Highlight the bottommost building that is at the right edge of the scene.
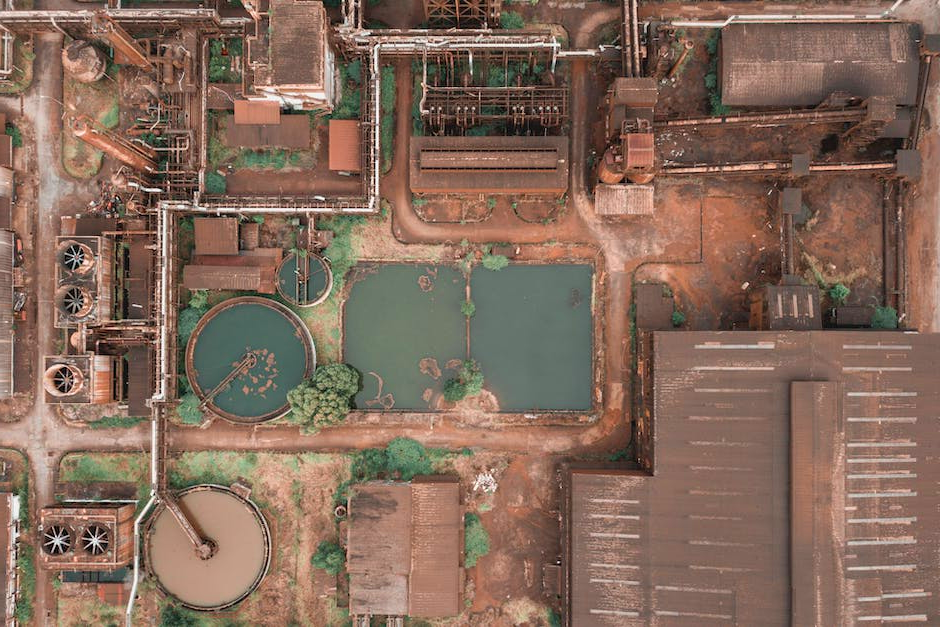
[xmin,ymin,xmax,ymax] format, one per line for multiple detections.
[636,333,940,627]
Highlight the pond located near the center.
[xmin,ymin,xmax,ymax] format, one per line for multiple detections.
[341,260,596,413]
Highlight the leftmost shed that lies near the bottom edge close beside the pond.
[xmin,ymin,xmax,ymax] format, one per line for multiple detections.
[348,480,411,617]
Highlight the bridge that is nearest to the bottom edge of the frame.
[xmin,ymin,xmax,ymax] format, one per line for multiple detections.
[156,489,210,553]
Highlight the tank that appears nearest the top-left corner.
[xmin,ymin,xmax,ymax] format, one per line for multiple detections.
[62,39,111,85]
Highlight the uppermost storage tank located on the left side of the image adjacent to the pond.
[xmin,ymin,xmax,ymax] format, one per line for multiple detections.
[275,219,336,308]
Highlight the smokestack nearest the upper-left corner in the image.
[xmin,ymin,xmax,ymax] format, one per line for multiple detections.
[71,117,157,171]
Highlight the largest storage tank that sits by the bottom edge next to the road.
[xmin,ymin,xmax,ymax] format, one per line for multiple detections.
[144,478,275,612]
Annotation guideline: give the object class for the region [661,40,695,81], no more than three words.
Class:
chimney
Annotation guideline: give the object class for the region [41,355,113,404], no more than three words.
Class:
cooling tower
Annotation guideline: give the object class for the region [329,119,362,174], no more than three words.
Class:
shed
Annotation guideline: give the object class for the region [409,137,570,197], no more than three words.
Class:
building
